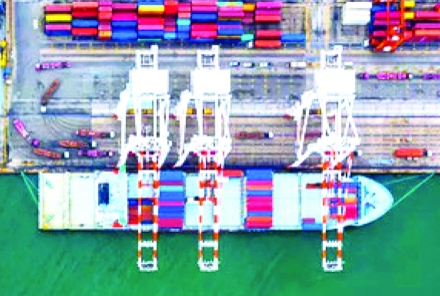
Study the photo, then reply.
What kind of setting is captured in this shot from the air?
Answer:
port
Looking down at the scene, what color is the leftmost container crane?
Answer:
white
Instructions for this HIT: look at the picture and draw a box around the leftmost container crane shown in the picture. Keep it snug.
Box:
[112,36,171,272]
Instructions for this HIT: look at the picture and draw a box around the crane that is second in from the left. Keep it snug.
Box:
[168,36,231,272]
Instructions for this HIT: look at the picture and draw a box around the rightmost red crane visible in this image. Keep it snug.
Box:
[373,0,407,52]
